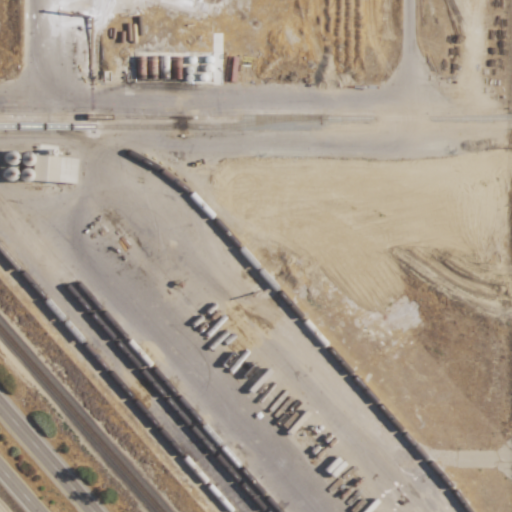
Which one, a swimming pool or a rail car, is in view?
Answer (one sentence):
There is a rail car in the scene.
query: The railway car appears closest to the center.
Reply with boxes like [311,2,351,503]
[241,246,261,268]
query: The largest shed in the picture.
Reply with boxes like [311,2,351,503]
[32,157,80,184]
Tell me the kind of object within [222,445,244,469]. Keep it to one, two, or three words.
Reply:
rail car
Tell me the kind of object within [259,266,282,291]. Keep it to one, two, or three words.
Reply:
rail car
